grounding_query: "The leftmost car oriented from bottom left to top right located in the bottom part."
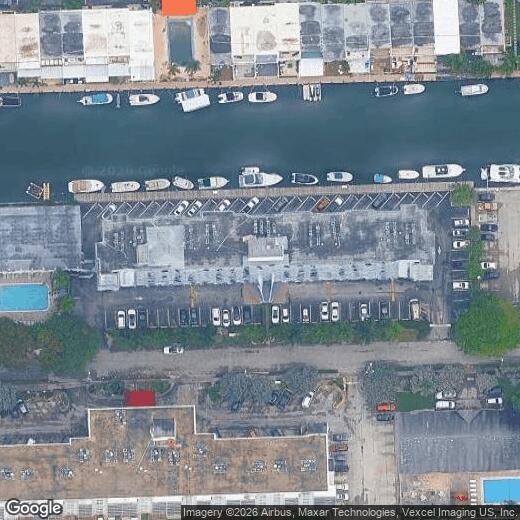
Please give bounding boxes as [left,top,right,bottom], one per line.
[228,397,245,415]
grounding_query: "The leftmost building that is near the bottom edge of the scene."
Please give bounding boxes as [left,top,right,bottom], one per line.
[0,405,335,519]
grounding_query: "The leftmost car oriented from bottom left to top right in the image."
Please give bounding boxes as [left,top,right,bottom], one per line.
[100,201,117,217]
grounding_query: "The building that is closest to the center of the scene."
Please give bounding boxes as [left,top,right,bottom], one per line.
[97,204,434,307]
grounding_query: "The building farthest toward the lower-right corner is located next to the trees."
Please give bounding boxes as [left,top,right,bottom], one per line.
[397,410,520,470]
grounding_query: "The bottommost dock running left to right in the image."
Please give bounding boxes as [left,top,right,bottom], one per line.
[74,181,474,202]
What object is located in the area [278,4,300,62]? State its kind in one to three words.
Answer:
house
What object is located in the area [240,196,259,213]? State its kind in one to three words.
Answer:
vehicle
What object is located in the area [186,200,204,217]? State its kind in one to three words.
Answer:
car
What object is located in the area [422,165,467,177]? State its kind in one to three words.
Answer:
boat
